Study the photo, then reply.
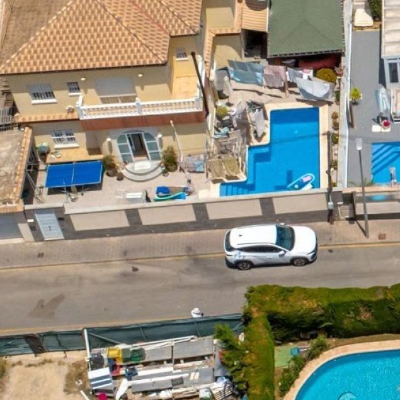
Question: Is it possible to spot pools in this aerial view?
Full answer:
Yes, the picture does show a pool.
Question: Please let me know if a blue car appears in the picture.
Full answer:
No, the photo shows no blue car.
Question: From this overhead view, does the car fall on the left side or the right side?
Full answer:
The car appears in the right half of the scene.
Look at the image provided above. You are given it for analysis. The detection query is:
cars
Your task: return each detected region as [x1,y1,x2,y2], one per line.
[222,221,319,273]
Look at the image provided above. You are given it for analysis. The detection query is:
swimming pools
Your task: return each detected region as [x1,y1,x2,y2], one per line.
[372,142,400,183]
[212,103,327,202]
[282,339,400,400]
